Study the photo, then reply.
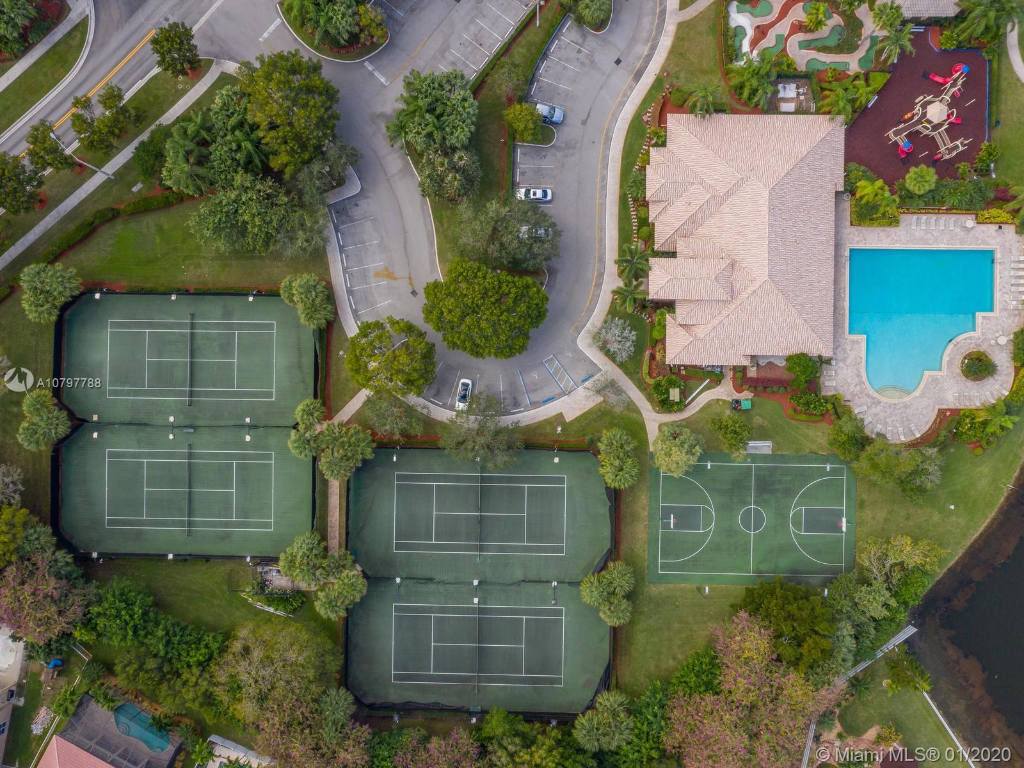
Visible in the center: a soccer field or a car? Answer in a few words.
car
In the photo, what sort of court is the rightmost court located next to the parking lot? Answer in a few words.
basketball court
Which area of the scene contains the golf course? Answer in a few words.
top right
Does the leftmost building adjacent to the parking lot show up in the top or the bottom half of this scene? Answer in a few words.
top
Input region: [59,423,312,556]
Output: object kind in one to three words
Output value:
tennis court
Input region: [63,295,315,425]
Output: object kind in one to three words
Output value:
tennis court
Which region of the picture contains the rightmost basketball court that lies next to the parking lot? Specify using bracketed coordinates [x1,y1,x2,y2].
[647,454,856,585]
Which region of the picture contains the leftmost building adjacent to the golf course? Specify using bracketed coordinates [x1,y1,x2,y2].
[643,113,845,366]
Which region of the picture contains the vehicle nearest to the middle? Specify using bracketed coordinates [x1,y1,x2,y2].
[455,374,475,410]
